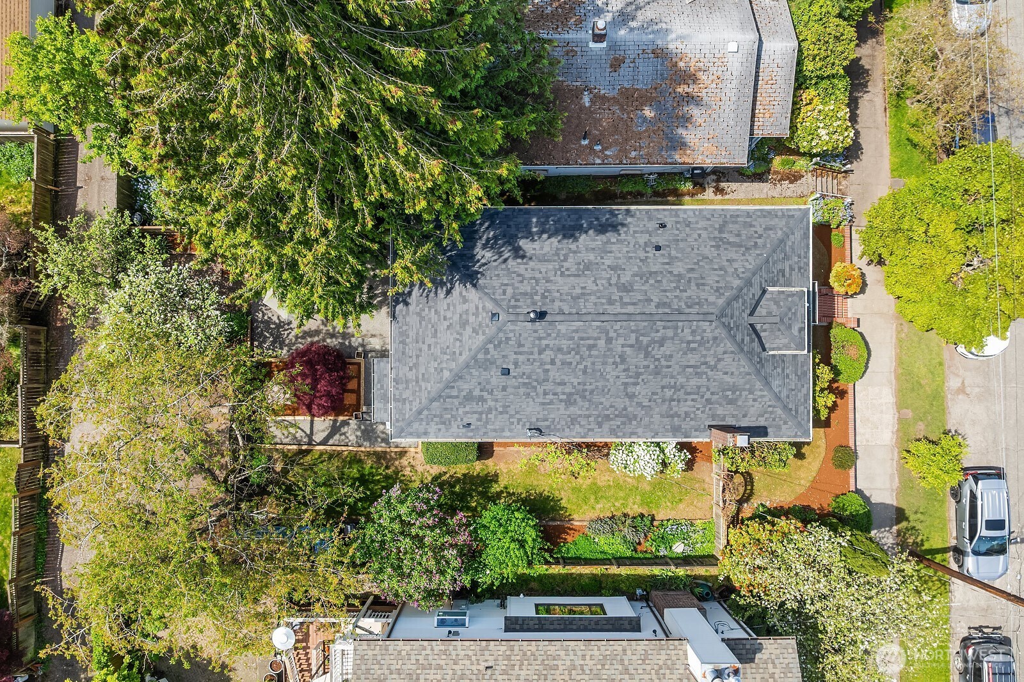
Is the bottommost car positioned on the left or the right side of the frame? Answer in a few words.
right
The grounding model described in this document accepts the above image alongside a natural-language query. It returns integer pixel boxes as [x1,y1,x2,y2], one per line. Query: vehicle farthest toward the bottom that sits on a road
[952,616,1017,682]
